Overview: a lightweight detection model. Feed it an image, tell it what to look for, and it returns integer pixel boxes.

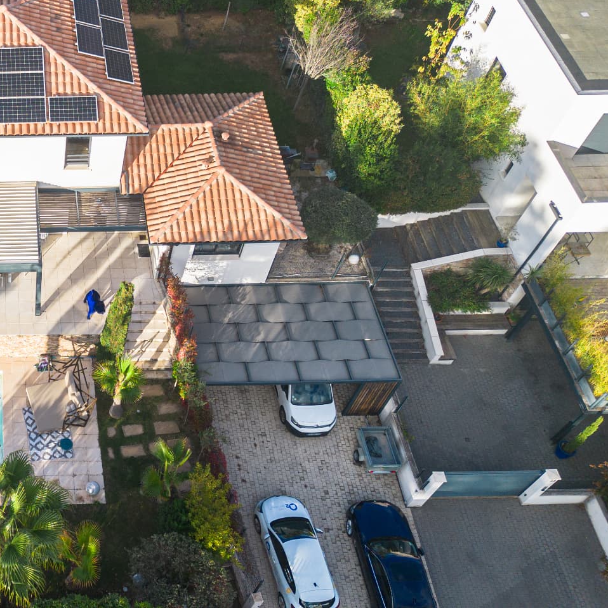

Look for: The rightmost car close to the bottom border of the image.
[351,493,452,608]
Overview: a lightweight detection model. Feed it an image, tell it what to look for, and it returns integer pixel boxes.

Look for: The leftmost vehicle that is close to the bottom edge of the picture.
[250,491,346,608]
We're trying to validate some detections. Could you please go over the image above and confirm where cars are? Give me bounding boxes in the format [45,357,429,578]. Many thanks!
[351,493,452,608]
[250,491,346,608]
[277,384,351,439]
